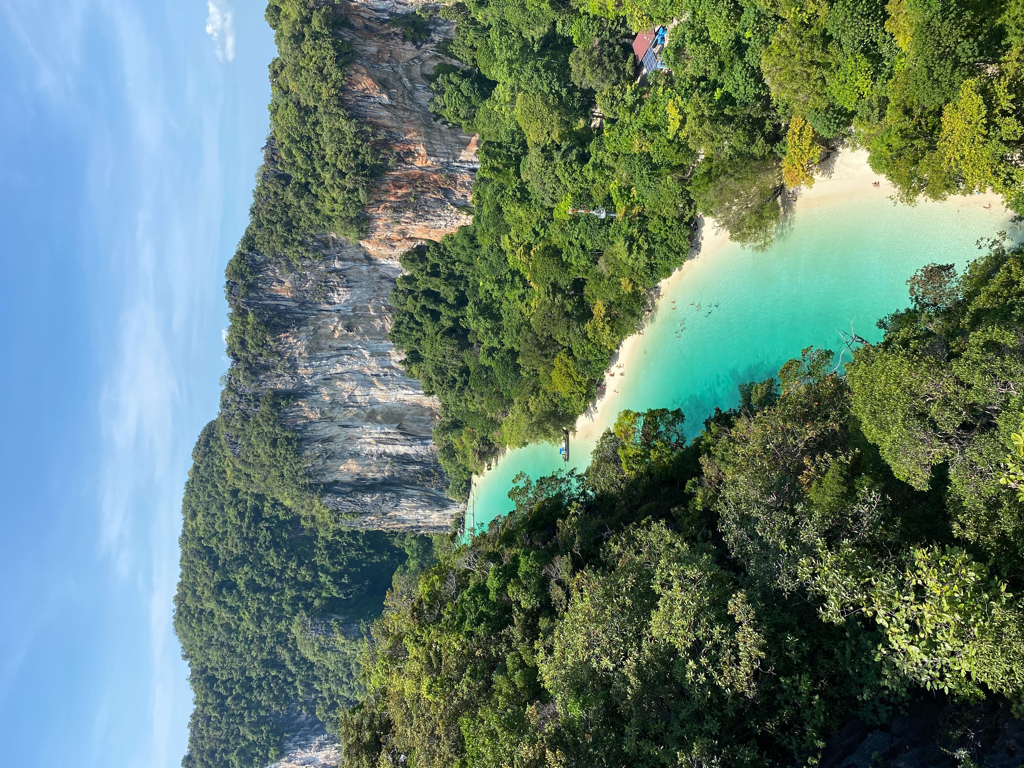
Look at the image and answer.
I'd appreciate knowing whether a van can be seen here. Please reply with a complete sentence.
No, the scene contains no van.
